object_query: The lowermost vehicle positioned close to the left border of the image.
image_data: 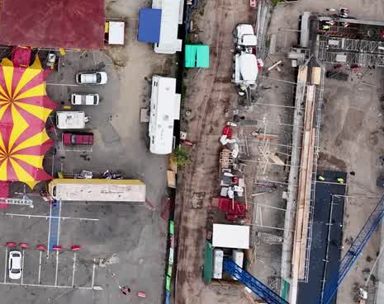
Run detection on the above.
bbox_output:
[8,251,24,280]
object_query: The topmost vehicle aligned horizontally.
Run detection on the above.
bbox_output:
[76,71,108,87]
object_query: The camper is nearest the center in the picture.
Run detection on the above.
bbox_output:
[142,75,179,155]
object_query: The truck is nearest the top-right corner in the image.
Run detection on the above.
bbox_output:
[236,24,265,104]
